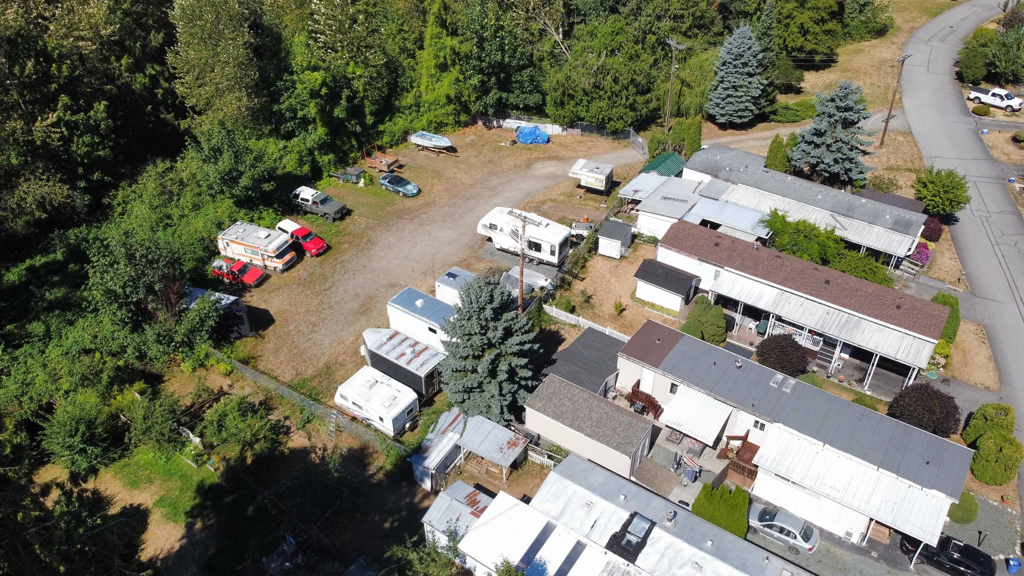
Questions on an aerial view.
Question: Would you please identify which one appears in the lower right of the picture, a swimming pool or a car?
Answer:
car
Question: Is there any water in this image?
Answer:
No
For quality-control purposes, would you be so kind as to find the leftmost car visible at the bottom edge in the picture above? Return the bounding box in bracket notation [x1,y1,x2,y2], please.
[740,502,823,560]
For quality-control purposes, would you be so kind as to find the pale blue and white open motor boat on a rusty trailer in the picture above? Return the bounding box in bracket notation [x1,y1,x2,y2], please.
[407,132,451,149]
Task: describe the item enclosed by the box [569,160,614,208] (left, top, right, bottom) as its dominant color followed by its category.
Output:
white camper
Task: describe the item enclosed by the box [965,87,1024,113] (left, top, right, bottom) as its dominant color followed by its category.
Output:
white truck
